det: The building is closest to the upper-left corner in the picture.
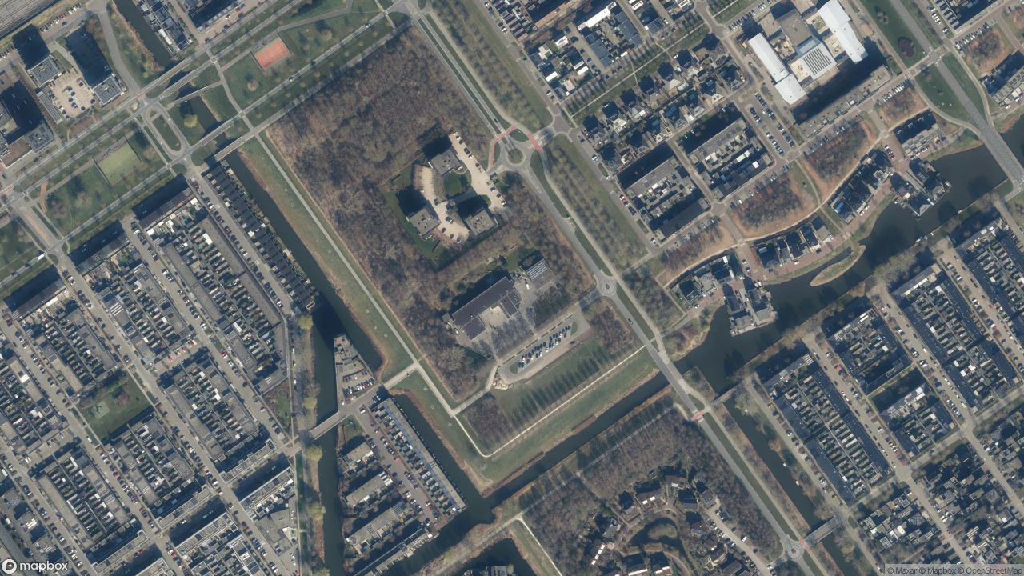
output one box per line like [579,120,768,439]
[27,54,61,87]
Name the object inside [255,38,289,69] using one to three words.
sports court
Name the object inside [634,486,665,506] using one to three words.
house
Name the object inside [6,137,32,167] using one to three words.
building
